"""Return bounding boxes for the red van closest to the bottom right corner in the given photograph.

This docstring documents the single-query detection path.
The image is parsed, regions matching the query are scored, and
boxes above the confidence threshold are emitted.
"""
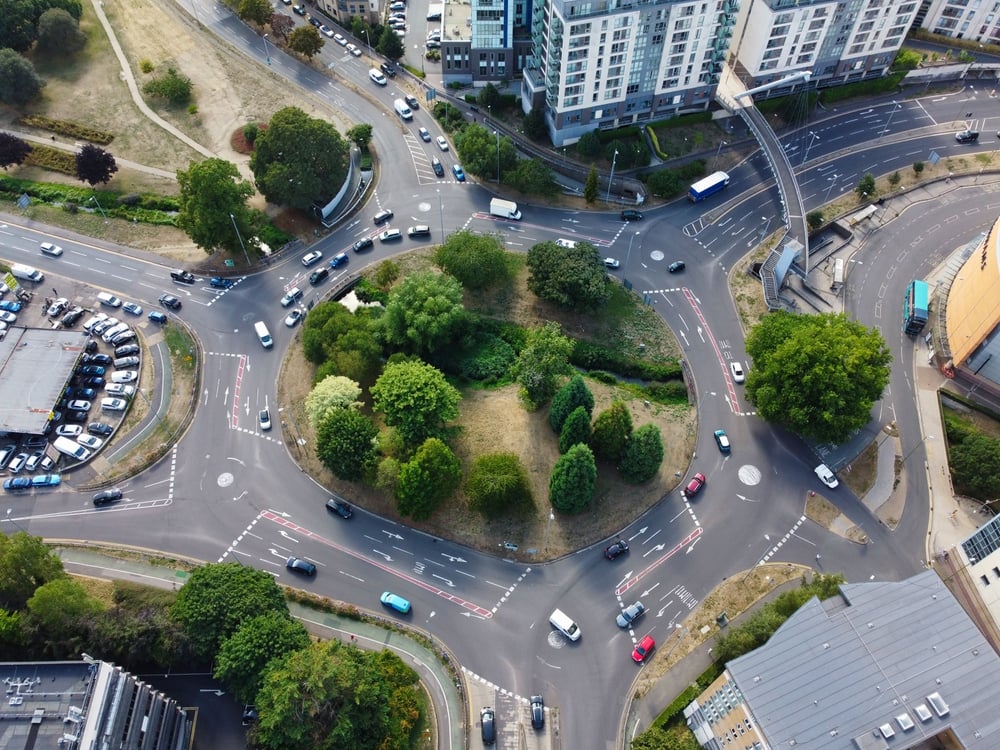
[628,631,659,664]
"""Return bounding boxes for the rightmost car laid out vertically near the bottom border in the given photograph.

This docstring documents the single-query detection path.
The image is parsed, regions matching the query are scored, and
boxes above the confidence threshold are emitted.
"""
[528,693,546,733]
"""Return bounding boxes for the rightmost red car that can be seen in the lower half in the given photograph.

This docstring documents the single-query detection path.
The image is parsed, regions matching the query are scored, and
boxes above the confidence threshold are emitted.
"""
[685,474,707,498]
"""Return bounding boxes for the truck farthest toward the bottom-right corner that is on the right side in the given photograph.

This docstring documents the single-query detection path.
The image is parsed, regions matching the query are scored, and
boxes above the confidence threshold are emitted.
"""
[812,459,843,491]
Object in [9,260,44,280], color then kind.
white vehicle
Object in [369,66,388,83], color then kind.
white vehicle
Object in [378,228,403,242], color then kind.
white car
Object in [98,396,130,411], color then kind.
white car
